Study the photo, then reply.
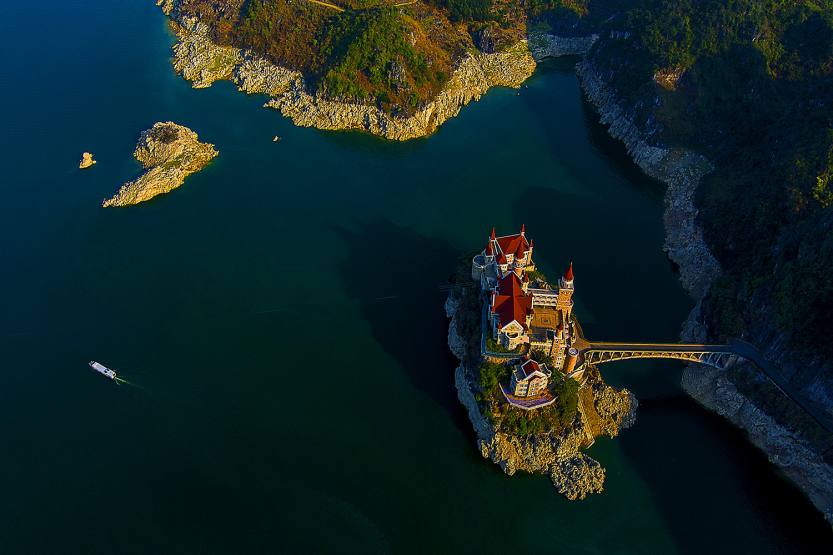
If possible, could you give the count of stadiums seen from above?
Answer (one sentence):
There are no stadiums in the image.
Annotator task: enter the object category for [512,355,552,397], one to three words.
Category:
house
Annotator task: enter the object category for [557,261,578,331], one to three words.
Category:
building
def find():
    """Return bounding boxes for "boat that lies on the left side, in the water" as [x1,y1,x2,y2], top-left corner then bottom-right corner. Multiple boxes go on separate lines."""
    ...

[89,360,116,378]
